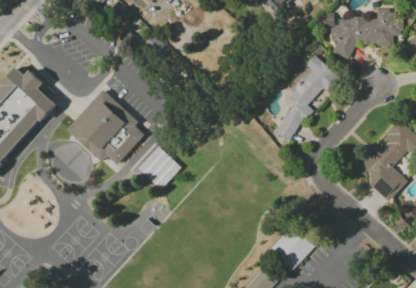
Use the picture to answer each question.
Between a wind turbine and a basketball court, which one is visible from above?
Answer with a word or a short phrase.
basketball court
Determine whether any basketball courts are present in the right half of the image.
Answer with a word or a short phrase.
No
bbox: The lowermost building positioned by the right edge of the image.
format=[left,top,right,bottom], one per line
[364,123,416,202]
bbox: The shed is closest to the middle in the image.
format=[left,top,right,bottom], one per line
[139,148,180,186]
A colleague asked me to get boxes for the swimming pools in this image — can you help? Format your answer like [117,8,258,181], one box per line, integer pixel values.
[267,90,283,116]
[406,180,416,198]
[349,0,372,11]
